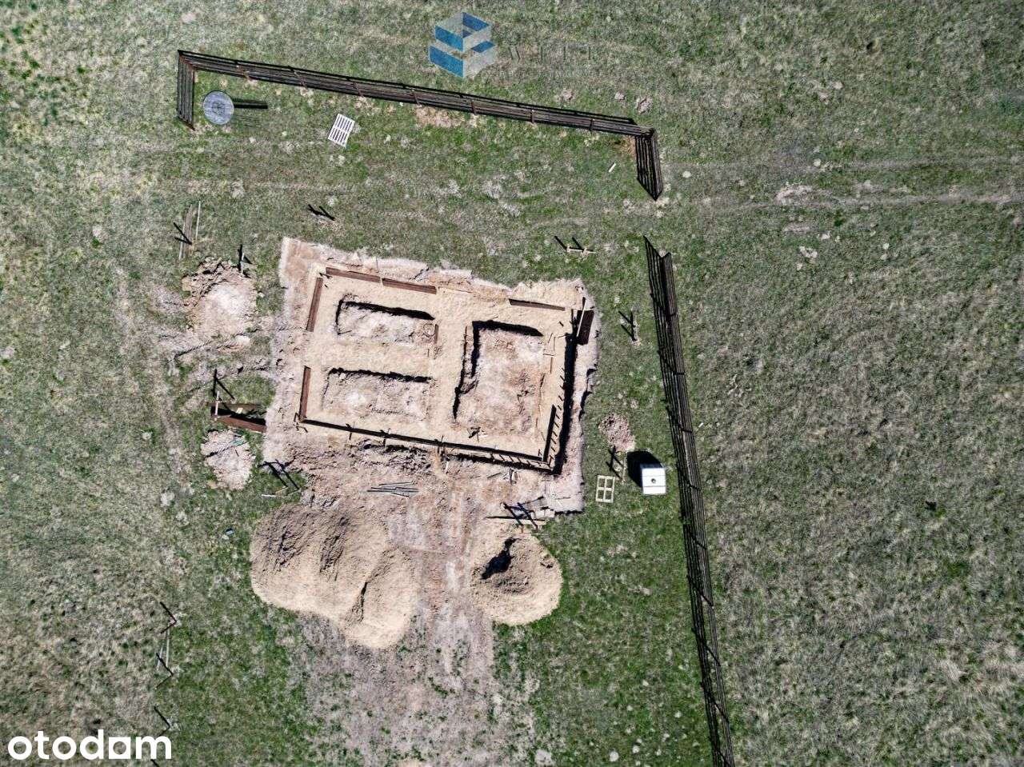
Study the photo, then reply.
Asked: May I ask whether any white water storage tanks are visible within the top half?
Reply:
No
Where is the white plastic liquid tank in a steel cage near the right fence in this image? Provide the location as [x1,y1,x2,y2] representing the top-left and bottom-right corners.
[638,465,665,495]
